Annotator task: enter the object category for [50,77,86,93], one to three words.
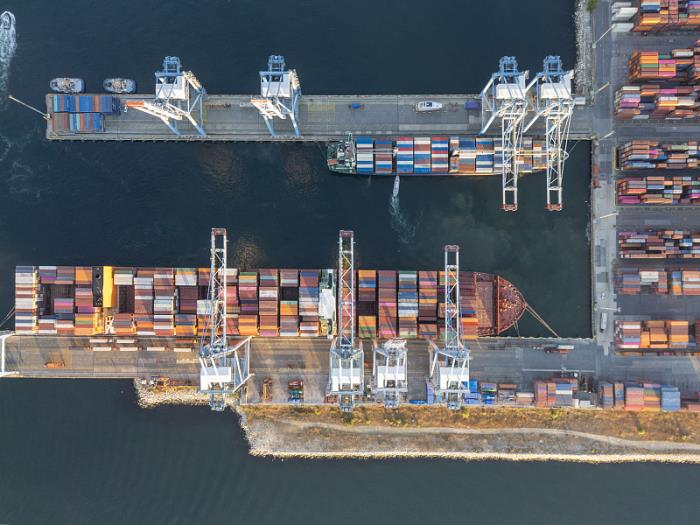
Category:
boat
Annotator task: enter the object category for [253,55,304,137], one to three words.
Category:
container crane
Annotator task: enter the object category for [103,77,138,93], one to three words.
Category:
boat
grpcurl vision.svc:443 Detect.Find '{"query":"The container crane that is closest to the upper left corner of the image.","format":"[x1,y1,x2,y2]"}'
[124,55,209,137]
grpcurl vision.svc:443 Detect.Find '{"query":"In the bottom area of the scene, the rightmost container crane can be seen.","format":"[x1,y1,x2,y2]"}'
[417,245,469,414]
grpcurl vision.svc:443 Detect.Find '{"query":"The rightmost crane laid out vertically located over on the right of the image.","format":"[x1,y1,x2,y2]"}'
[515,55,576,214]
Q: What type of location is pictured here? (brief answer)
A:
port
